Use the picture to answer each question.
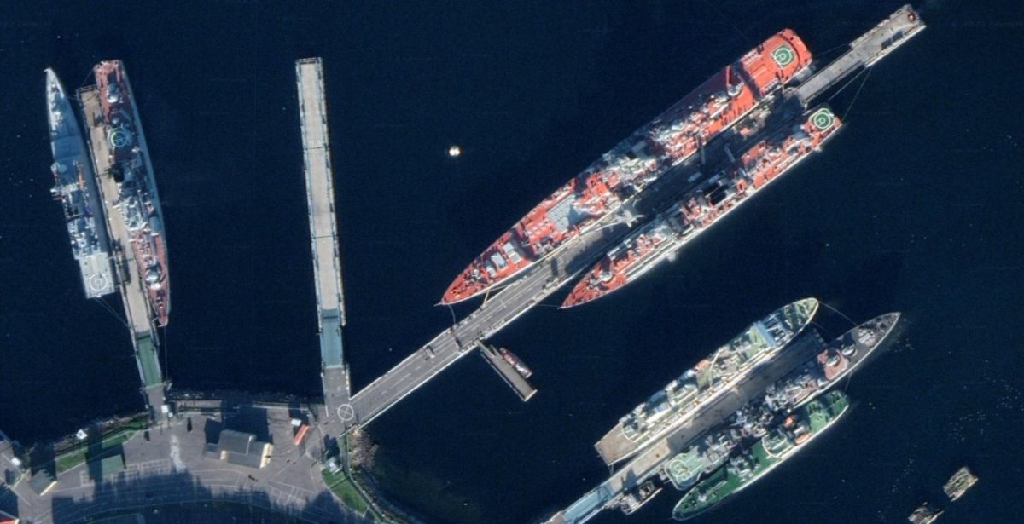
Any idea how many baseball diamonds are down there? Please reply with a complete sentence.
Not a single baseball diamond can be seen.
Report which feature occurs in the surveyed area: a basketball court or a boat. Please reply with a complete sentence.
This aerial view contains a boat.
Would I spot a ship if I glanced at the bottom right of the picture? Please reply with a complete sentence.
Yes, a ship can be seen at the bottom right of the picture.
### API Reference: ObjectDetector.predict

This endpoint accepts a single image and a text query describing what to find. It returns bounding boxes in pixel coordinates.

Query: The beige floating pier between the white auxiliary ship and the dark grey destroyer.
[544,329,829,524]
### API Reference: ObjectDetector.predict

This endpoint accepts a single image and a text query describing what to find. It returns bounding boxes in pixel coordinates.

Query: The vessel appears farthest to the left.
[44,68,119,301]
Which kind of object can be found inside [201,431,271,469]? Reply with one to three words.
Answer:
building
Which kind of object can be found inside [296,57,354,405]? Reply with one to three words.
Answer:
pier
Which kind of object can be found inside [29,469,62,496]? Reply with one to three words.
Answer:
building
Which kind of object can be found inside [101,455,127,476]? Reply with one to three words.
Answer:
shed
